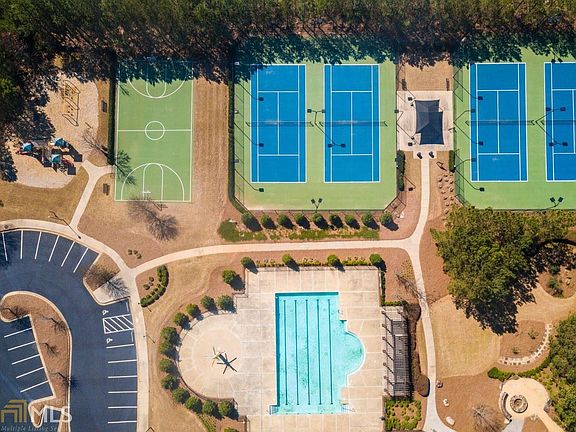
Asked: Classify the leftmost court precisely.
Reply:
basketball court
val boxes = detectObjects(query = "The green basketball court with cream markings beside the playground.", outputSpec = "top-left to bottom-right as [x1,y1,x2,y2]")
[114,61,194,201]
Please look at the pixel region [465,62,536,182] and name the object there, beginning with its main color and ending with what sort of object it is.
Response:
blue tennis court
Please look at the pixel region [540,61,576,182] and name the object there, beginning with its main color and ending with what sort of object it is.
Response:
blue tennis court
